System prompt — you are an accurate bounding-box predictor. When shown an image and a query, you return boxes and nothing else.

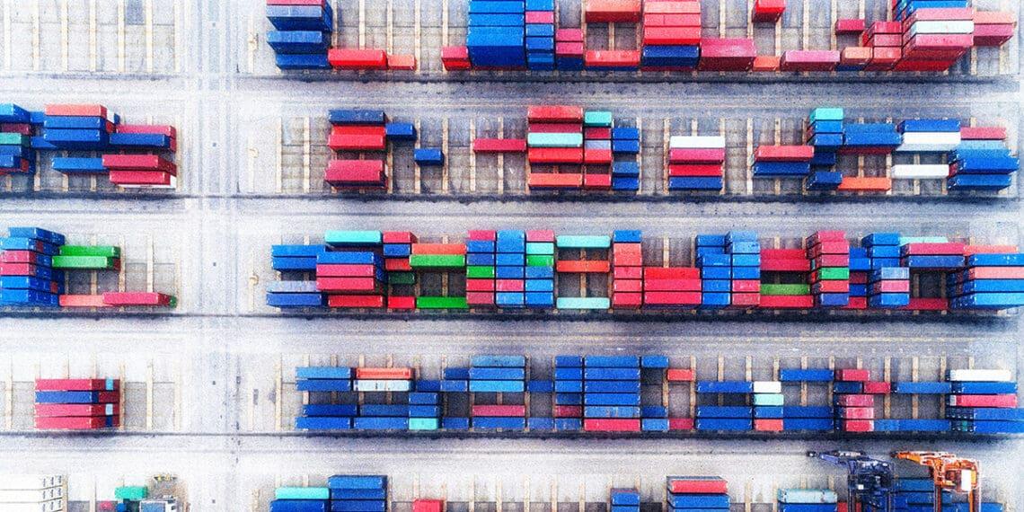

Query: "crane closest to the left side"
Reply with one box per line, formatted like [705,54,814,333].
[810,450,896,512]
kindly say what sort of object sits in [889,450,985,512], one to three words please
container crane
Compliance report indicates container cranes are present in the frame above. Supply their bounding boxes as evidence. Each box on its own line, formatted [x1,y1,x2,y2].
[810,450,896,512]
[889,450,985,512]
